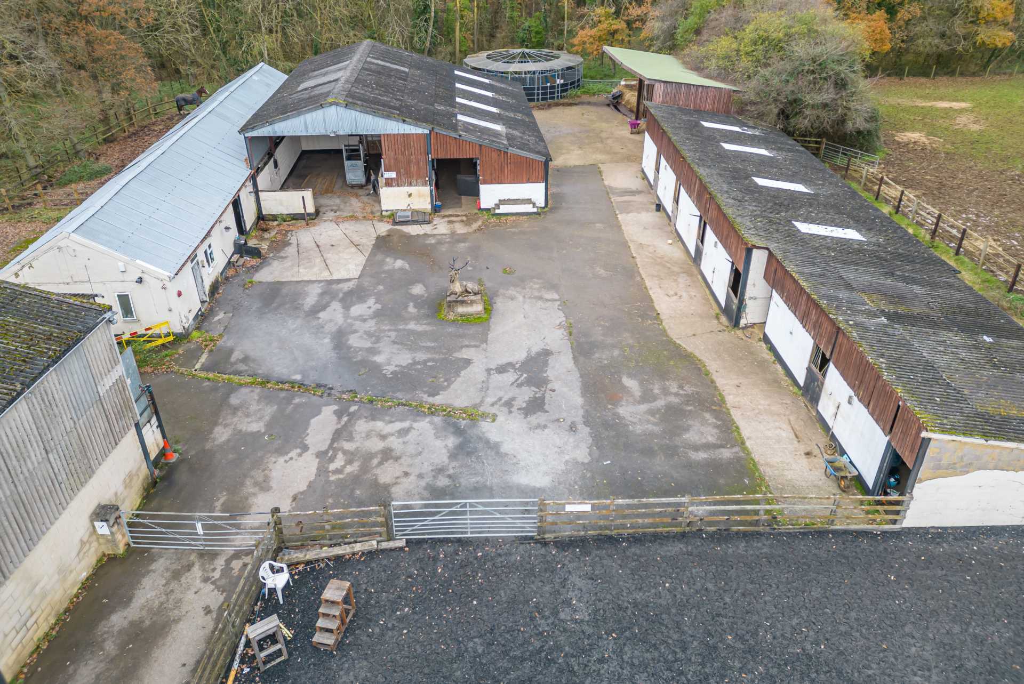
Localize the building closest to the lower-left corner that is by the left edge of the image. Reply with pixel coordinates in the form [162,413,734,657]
[0,280,164,684]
